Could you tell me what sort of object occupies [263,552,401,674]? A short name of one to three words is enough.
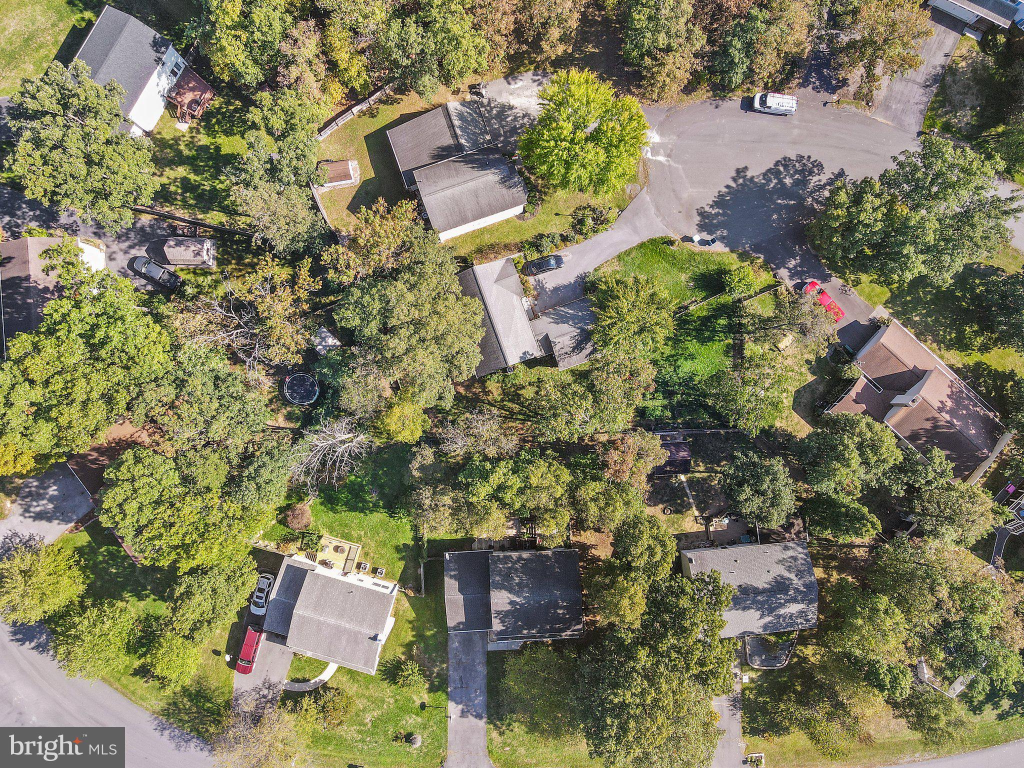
house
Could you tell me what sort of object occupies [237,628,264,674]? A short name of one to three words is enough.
car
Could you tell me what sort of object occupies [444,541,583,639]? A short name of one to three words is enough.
house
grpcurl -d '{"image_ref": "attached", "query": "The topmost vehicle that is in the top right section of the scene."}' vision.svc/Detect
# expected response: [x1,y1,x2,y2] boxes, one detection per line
[751,92,802,118]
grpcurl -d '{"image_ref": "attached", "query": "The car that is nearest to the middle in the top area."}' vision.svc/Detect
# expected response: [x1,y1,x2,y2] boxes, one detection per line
[524,254,565,278]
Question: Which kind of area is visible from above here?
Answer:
residential area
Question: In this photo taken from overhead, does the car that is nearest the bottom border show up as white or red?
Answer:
red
